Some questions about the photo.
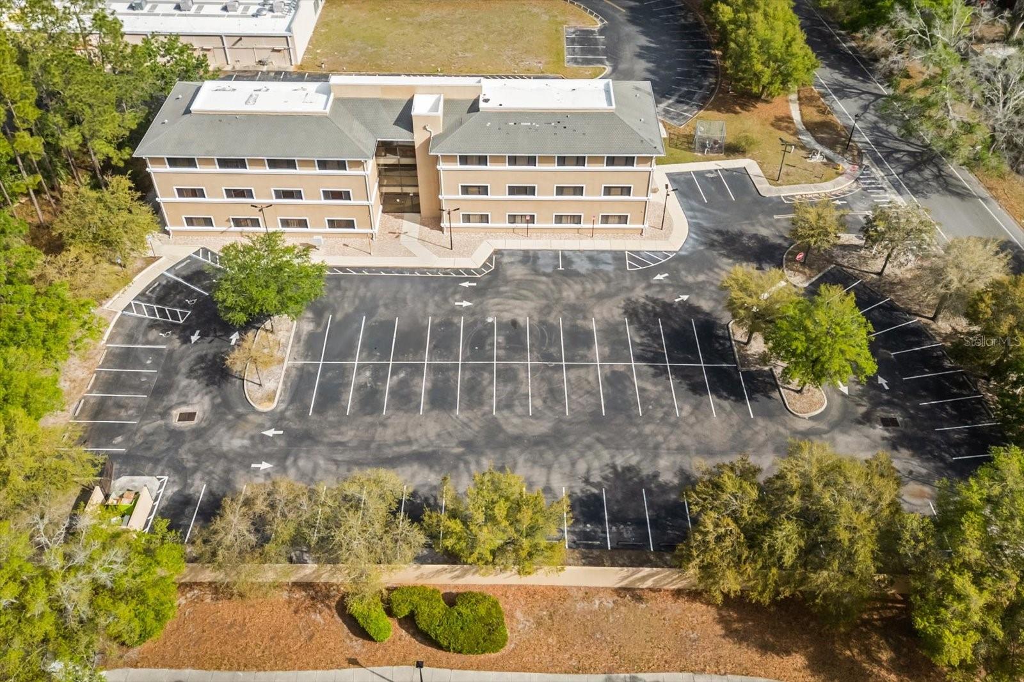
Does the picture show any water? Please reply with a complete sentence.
No, the scene doesn't show any water.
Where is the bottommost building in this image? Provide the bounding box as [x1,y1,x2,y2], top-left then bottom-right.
[131,73,663,243]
